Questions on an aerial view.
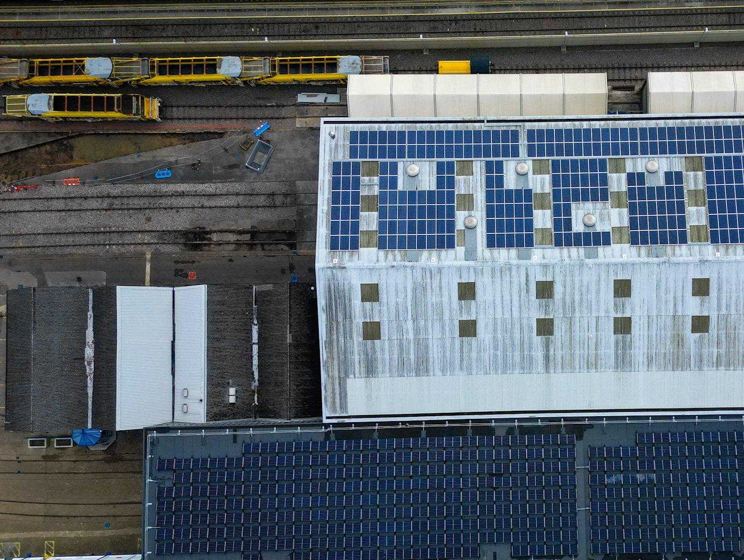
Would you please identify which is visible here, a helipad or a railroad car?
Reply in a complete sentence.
This aerial view contains a railroad car.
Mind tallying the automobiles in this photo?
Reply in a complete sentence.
No automobiles are visible.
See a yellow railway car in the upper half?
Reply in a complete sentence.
Yes, a yellow railway car shows up in the upper half.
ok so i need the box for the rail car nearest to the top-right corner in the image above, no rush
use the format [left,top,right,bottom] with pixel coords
[436,56,495,73]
